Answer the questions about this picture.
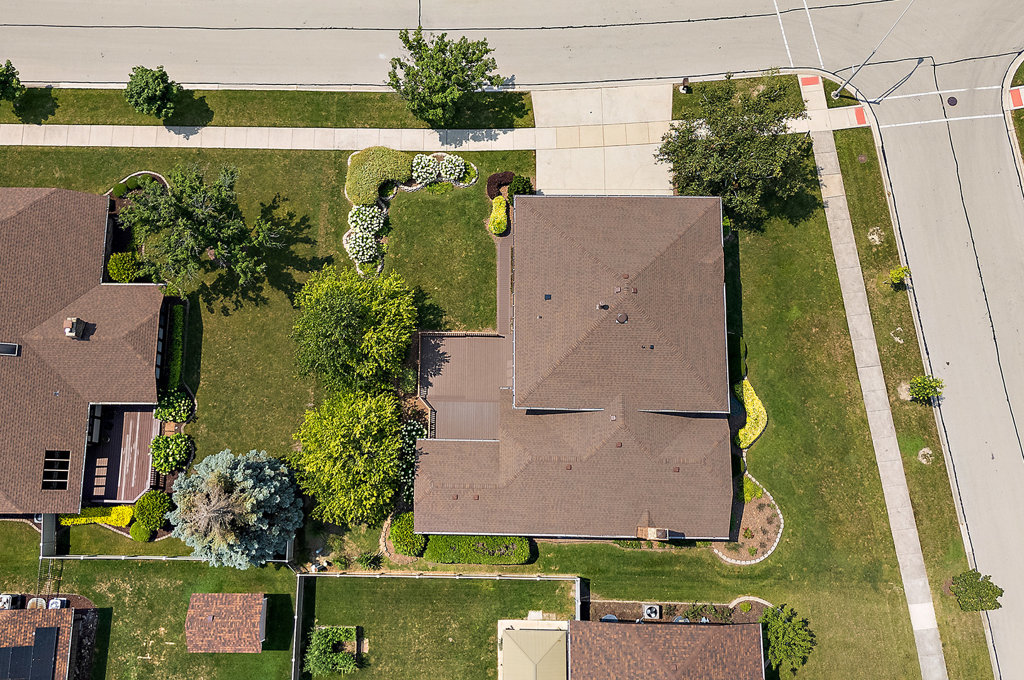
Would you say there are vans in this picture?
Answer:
No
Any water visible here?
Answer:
No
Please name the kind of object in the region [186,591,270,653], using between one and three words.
shed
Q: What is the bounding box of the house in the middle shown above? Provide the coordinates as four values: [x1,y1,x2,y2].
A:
[414,194,734,540]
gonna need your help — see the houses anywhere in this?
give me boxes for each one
[0,188,172,513]
[414,194,734,540]
[0,607,85,680]
[567,619,766,680]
